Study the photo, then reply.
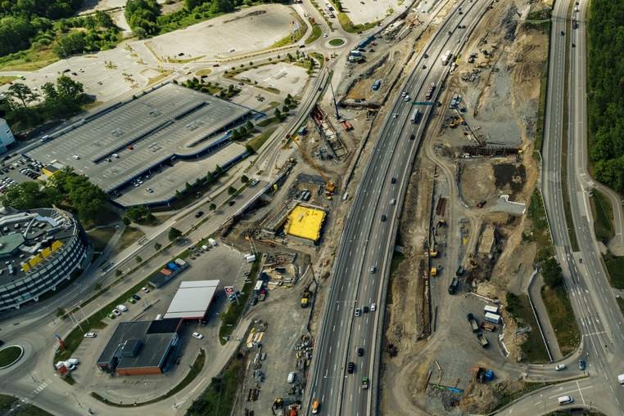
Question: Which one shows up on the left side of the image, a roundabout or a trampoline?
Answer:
roundabout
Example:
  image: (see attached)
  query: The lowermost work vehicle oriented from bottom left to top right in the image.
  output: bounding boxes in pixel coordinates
[266,392,284,416]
